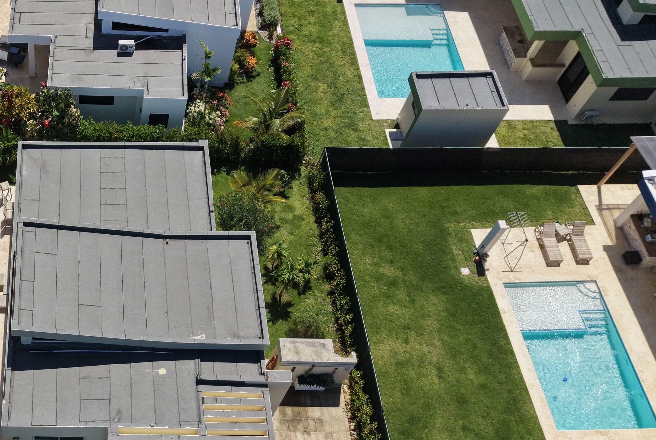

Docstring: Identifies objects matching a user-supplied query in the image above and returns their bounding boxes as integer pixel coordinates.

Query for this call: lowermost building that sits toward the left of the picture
[1,141,292,440]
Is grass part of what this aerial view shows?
Yes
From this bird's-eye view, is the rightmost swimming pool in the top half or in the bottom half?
bottom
